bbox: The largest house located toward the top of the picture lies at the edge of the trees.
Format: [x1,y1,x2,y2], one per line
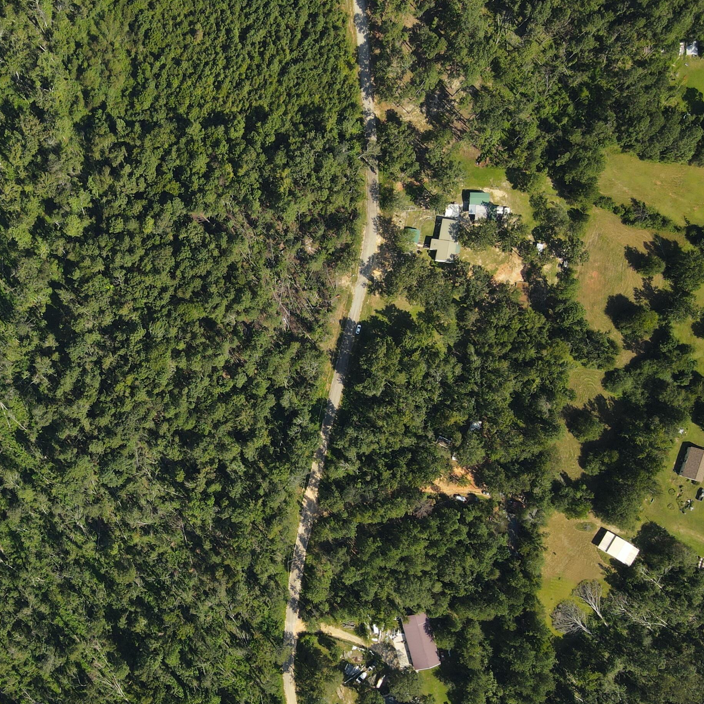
[429,218,460,263]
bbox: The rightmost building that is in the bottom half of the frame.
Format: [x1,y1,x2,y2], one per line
[677,445,704,483]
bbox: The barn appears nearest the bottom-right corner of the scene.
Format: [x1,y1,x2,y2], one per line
[594,530,640,566]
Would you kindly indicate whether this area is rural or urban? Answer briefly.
rural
